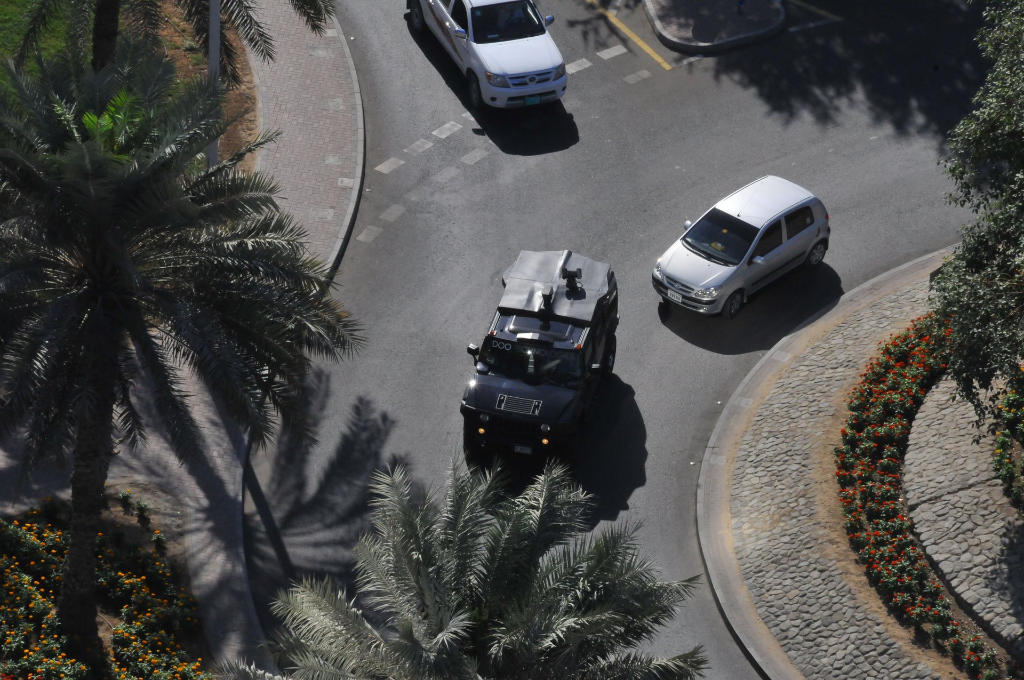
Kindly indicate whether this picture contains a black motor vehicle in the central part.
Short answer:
Yes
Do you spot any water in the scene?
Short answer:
No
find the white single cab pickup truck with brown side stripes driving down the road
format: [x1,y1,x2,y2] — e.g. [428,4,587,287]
[408,0,571,112]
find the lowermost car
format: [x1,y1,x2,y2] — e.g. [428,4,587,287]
[462,250,615,458]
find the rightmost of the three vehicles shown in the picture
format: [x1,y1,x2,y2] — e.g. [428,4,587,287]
[645,175,832,321]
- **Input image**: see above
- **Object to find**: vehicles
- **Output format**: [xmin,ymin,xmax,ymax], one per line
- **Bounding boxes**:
[408,0,571,112]
[645,175,832,321]
[462,250,615,458]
